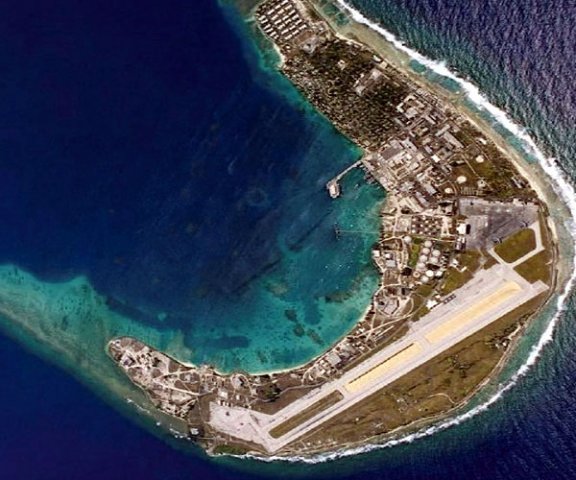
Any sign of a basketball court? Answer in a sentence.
No, no basketball court is visible in the view.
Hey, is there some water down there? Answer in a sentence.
Yes, water can be seen from above here.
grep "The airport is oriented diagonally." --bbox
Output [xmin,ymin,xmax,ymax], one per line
[210,198,549,452]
